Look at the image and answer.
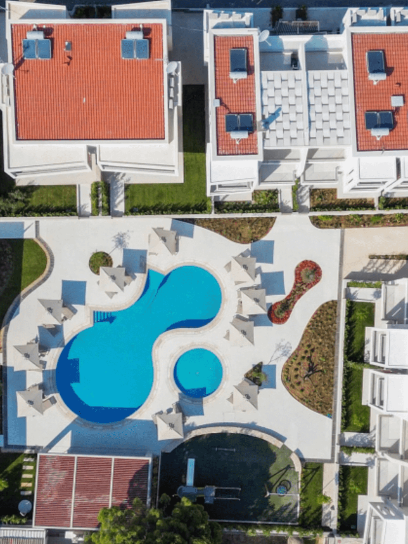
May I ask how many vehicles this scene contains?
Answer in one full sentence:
The photo contains no vehicles.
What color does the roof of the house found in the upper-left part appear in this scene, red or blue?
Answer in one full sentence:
The roof of the house found in the upper-left part is red.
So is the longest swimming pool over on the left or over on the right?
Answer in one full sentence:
You can find the longest swimming pool on the left side of the picture.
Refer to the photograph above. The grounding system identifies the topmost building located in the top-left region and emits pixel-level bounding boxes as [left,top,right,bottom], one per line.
[0,0,185,182]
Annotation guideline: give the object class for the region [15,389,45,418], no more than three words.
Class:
umbrella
